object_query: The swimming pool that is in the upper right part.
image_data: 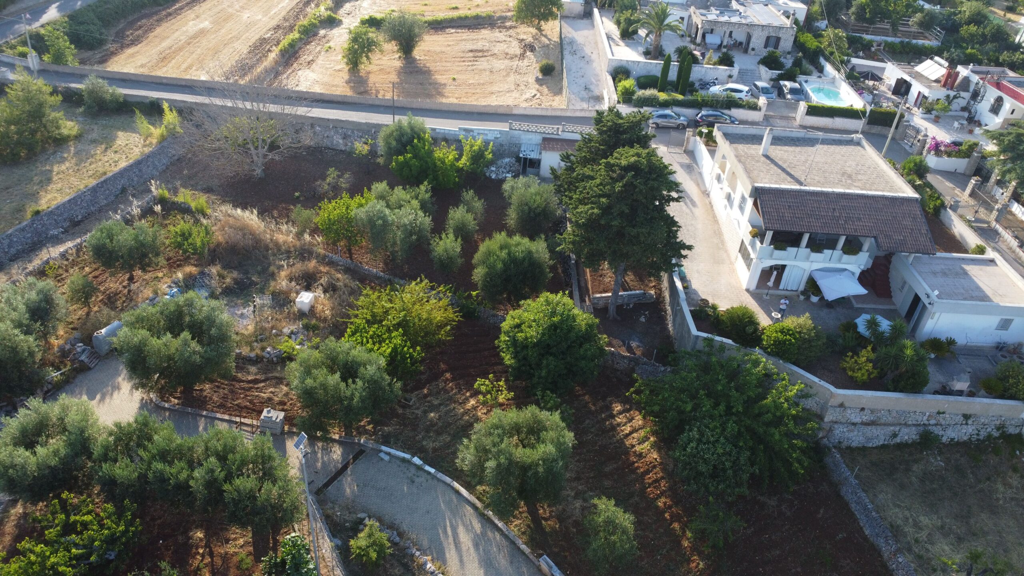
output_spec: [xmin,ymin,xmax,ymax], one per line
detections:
[803,78,849,115]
